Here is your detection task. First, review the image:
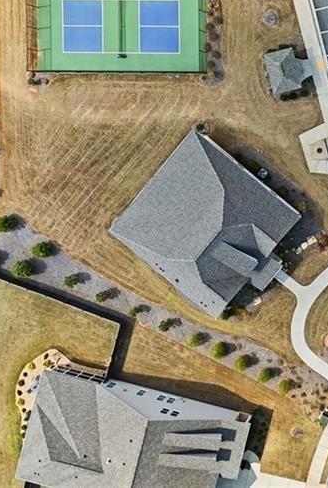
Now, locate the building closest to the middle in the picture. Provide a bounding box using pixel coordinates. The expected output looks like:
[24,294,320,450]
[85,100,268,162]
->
[110,129,301,318]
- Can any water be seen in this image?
No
